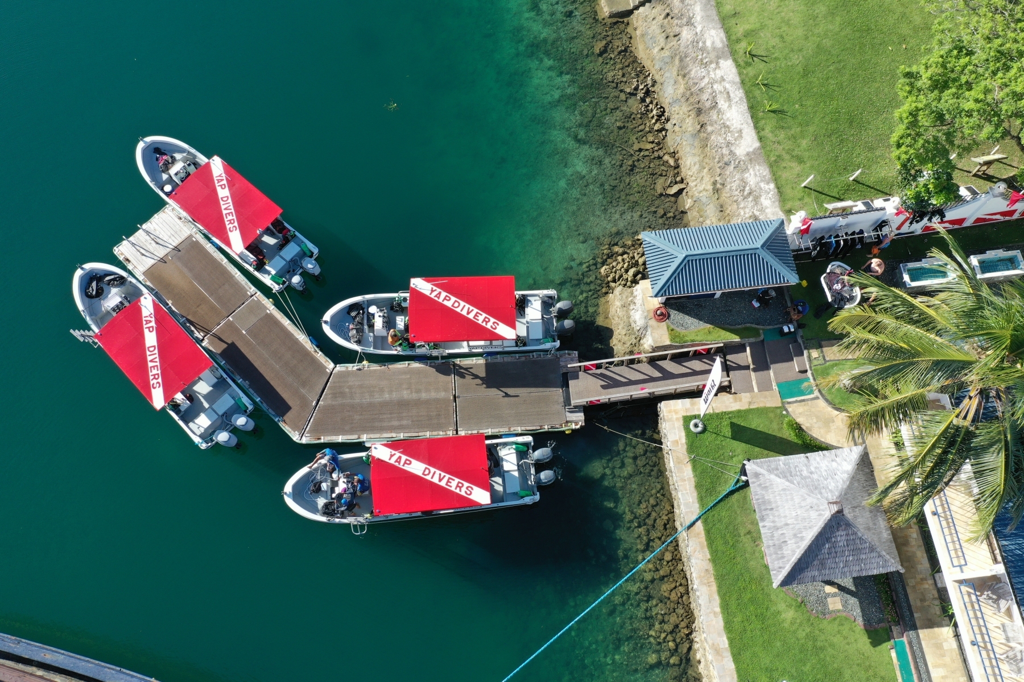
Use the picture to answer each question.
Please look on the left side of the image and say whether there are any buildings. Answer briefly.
No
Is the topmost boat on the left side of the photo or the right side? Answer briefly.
left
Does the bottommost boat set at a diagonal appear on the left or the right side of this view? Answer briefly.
left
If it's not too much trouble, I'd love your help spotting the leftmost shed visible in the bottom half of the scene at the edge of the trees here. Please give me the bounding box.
[744,443,903,590]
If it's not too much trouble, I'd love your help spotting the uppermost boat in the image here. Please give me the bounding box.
[134,135,330,304]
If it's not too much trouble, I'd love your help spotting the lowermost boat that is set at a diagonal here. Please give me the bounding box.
[70,264,268,462]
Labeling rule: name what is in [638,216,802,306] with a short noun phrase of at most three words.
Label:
building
